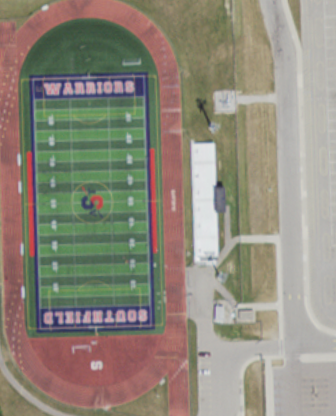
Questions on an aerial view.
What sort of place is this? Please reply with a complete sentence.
What you see here is a sports ground.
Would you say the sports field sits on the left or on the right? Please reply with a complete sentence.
The sports field sits on the left side.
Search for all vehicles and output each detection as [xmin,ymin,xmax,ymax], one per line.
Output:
[198,352,210,356]
[198,370,210,375]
